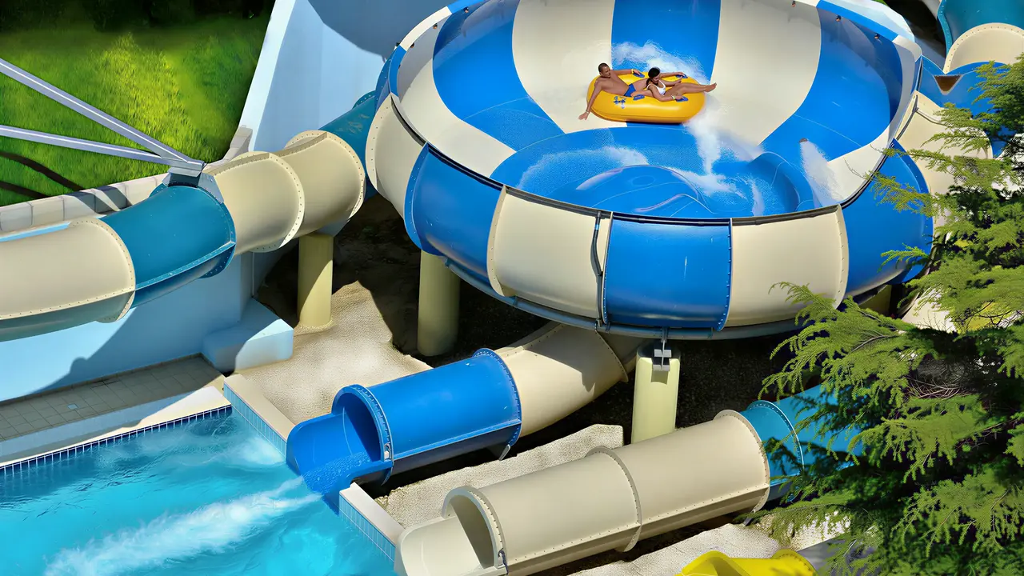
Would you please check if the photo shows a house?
No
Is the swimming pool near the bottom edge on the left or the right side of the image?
left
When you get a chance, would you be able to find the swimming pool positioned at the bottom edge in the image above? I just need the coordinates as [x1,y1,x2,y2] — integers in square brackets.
[0,415,397,576]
